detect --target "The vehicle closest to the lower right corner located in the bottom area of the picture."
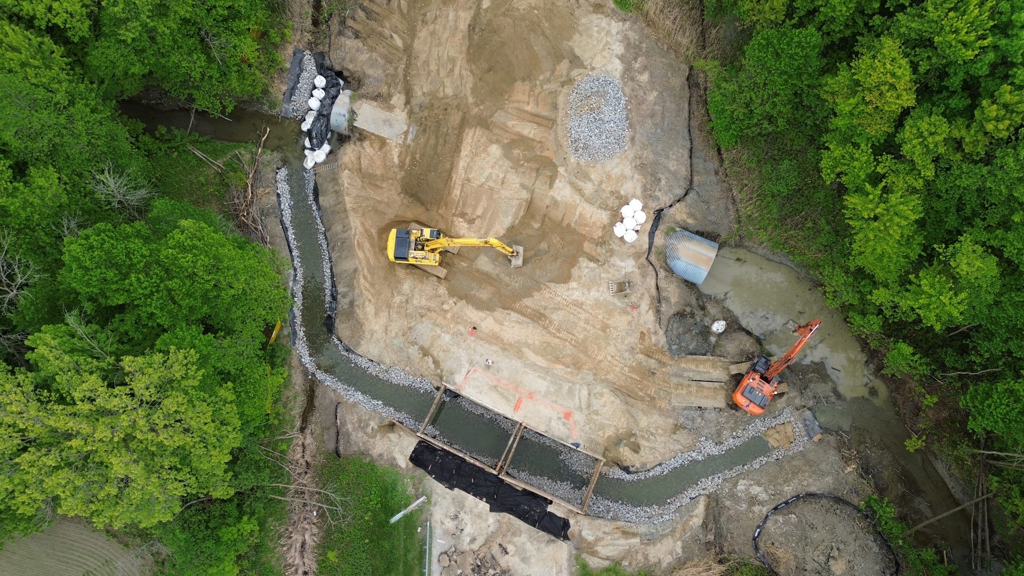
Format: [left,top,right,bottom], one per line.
[724,317,820,416]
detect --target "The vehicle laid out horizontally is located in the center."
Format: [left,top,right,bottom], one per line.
[389,225,519,282]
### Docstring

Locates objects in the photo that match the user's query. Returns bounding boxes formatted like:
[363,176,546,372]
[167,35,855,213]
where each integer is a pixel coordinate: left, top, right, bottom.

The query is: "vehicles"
[389,225,519,282]
[724,317,820,416]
